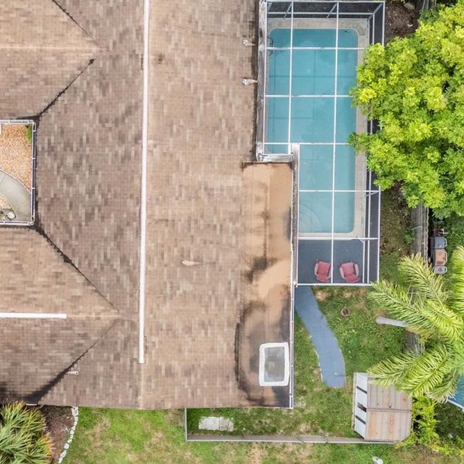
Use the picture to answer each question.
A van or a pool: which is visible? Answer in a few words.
pool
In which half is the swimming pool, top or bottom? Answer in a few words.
top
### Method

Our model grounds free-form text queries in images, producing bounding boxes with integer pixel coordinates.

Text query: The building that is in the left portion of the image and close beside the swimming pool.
[0,0,297,410]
